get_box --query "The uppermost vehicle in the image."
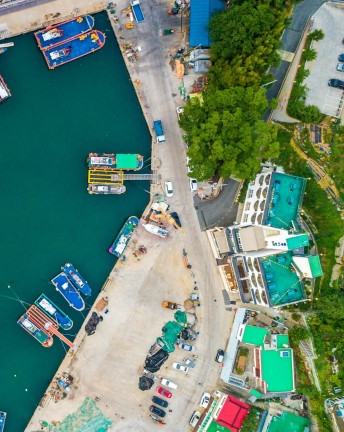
[131,0,146,23]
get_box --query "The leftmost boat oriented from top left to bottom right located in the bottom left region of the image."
[17,314,52,348]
